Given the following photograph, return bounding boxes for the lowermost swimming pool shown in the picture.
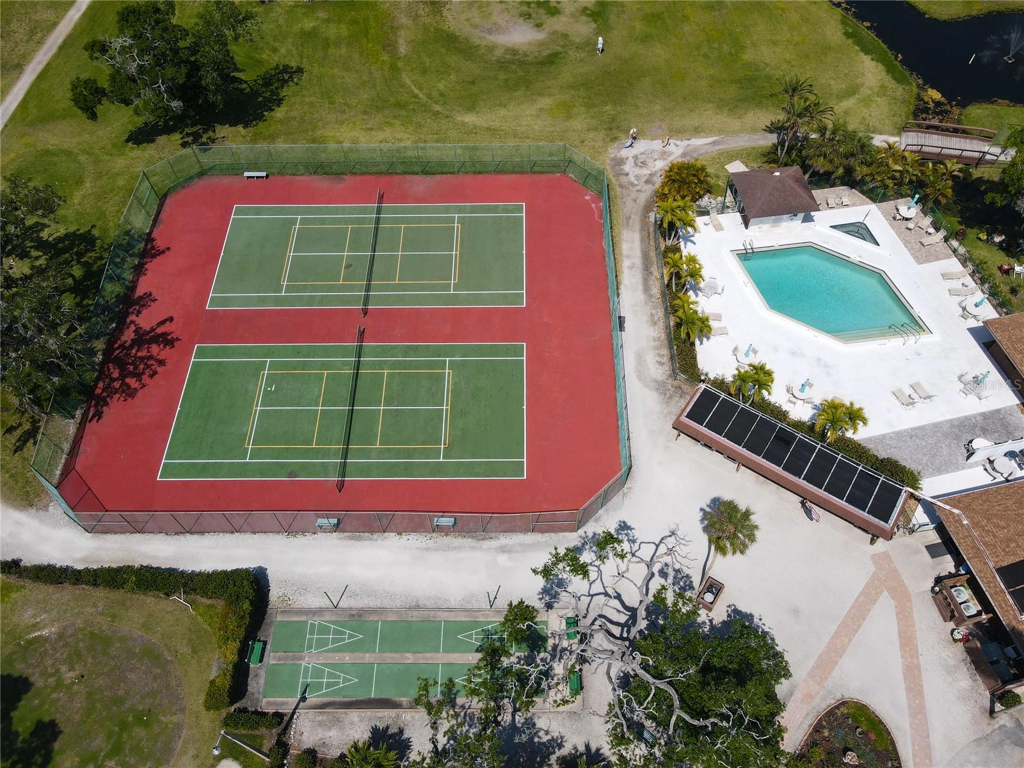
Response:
[731,241,933,343]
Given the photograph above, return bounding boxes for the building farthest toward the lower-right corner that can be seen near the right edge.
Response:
[909,477,1024,660]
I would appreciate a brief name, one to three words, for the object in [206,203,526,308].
tennis court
